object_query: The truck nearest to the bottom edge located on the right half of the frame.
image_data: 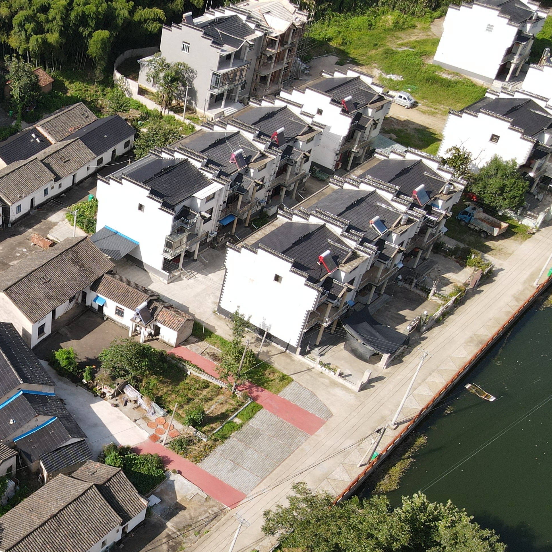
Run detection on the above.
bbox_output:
[455,204,510,235]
